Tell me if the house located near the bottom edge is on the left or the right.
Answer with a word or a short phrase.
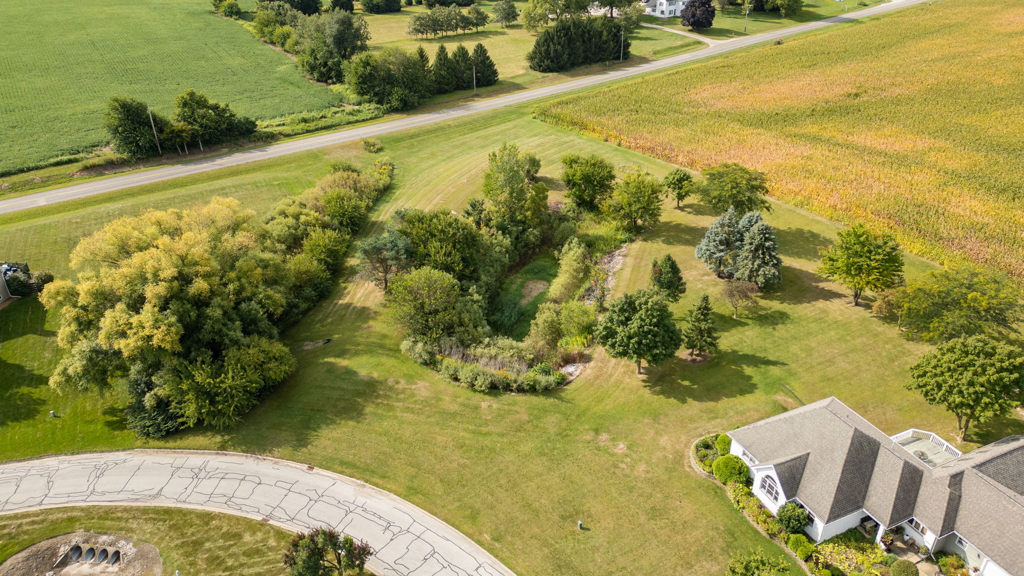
right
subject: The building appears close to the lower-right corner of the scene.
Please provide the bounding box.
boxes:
[726,393,1024,576]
